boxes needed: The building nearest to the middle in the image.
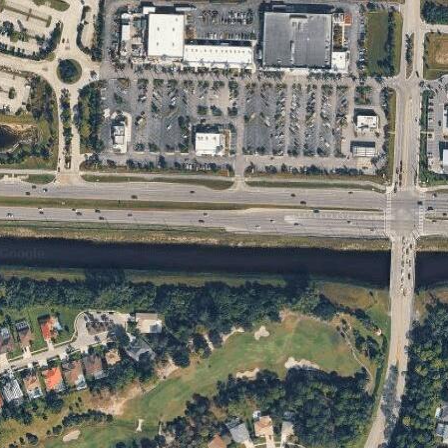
[195,133,223,157]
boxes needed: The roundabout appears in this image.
[47,50,90,93]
